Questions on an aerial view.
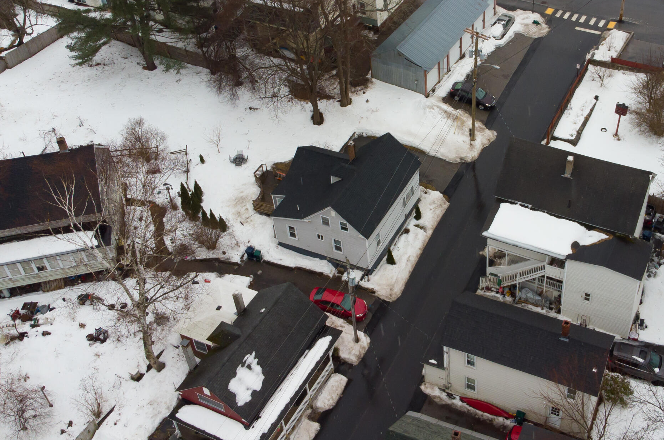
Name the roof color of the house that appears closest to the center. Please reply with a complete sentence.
The roof of the house that appears closest to the center is black.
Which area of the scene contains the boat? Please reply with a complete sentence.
Look in the bottom right portion of the view to spot the boat.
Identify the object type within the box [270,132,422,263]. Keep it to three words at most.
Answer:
house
